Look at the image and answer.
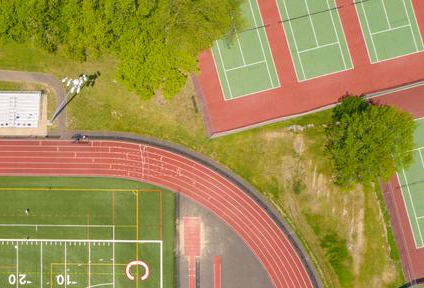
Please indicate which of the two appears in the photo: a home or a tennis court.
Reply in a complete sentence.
The one in the frame is a tennis court.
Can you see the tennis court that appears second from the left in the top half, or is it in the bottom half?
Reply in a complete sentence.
The tennis court that appears second from the left is in the top half of the image.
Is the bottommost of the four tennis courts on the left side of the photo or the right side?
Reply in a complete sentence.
The bottommost of the four tennis courts sits on the right side.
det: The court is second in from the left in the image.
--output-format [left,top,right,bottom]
[277,0,355,82]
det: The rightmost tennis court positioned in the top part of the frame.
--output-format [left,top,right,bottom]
[351,0,424,64]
